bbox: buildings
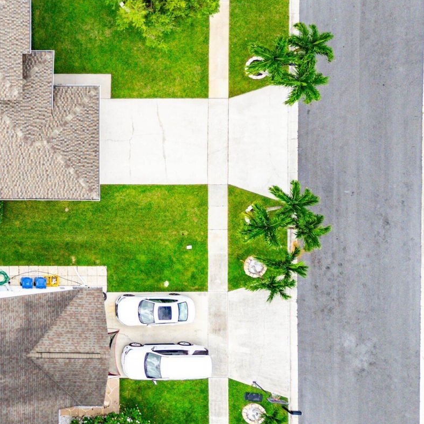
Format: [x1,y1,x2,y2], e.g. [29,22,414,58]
[0,283,110,424]
[0,0,102,203]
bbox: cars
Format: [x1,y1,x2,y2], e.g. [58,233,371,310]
[112,289,196,329]
[119,339,211,383]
